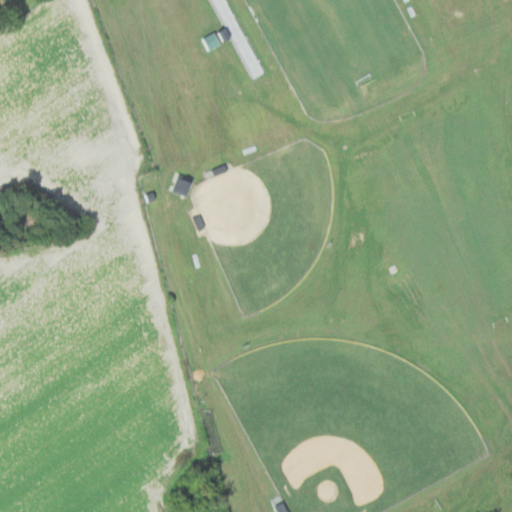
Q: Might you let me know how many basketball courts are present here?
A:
0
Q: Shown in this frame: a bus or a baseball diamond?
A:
baseball diamond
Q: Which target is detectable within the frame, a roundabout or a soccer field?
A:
soccer field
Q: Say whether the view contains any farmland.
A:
Yes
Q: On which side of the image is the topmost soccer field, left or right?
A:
right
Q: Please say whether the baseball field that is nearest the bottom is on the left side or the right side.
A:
right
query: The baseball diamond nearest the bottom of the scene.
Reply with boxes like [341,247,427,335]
[214,338,489,512]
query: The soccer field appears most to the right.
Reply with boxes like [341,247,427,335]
[376,92,512,335]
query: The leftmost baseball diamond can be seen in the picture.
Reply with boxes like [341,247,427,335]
[189,138,334,318]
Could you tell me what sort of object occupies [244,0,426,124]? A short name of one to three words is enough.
soccer field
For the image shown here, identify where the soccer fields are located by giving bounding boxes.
[376,92,512,335]
[244,0,426,124]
